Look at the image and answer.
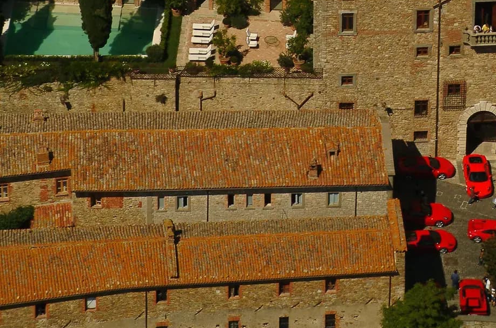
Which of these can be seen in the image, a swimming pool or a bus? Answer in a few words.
swimming pool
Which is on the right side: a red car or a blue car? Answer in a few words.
red car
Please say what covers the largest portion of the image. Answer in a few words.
buildings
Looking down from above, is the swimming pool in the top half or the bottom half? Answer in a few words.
top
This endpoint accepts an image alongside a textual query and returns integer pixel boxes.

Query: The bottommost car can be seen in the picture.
[457,278,490,318]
